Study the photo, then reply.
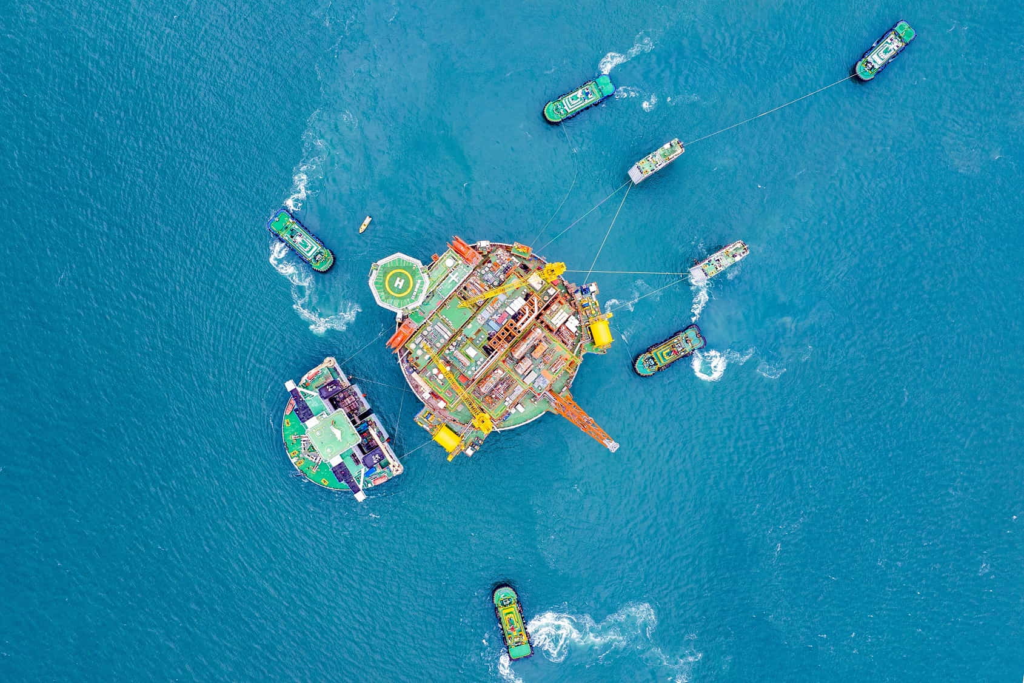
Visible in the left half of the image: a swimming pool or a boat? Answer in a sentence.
What appears in the left half of the image is a boat.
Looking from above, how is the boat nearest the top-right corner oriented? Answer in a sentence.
The boat nearest the top-right corner is oriented diagonally.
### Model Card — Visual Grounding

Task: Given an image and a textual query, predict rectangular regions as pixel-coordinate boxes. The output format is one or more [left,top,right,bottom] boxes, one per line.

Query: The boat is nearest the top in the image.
[853,19,918,84]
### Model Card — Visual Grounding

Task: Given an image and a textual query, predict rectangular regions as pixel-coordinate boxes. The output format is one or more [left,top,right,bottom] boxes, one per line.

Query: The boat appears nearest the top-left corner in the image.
[268,210,335,271]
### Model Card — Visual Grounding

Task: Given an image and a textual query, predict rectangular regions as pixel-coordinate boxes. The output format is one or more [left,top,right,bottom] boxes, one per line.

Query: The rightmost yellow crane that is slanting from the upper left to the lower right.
[422,341,498,442]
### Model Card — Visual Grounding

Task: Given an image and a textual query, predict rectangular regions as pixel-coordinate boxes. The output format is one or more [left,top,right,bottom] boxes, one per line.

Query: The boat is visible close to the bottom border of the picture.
[493,583,535,660]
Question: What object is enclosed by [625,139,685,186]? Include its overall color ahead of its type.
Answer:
white boat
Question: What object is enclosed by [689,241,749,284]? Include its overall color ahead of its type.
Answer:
white boat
